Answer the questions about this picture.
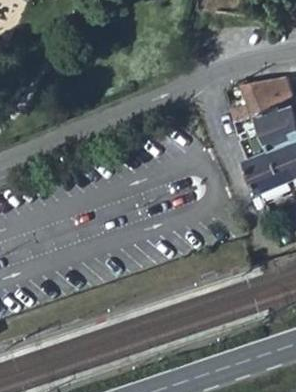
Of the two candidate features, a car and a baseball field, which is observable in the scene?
car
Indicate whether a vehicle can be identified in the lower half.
Yes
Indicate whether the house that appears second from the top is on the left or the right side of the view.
right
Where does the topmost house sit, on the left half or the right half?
right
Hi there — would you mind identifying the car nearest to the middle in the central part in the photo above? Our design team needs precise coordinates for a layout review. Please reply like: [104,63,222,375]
[147,202,170,216]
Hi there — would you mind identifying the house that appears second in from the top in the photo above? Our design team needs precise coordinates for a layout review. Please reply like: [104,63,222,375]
[253,106,296,154]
